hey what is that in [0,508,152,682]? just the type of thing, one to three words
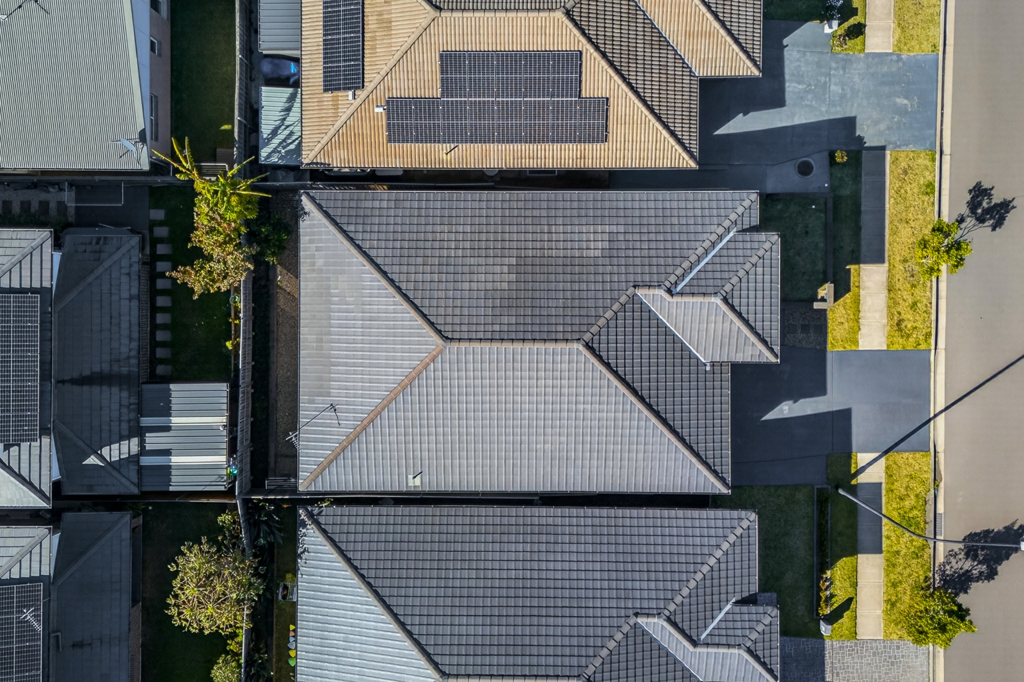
house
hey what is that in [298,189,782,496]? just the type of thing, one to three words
house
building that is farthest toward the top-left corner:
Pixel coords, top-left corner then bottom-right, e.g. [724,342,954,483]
[0,0,171,172]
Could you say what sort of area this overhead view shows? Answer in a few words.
residential area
